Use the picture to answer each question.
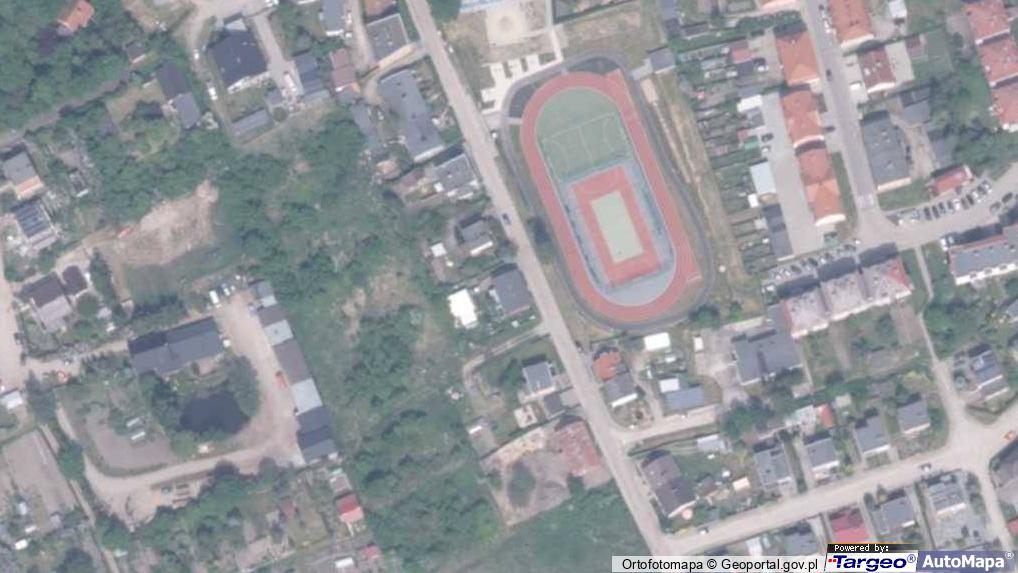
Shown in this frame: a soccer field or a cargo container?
soccer field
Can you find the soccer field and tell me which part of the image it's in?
top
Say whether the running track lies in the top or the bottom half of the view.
top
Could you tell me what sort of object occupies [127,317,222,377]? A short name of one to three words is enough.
barn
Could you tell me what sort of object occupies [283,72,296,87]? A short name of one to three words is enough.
vehicle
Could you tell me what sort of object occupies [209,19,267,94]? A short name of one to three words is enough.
house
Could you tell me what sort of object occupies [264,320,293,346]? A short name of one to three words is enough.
building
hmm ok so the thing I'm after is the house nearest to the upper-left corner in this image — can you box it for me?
[56,0,94,39]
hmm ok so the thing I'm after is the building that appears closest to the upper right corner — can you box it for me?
[964,0,1012,44]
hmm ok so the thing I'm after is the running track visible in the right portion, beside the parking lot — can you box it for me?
[520,74,703,320]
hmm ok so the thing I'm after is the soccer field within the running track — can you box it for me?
[538,91,633,188]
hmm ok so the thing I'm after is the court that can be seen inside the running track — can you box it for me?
[571,166,661,287]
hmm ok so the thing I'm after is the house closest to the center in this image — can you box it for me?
[490,270,533,315]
